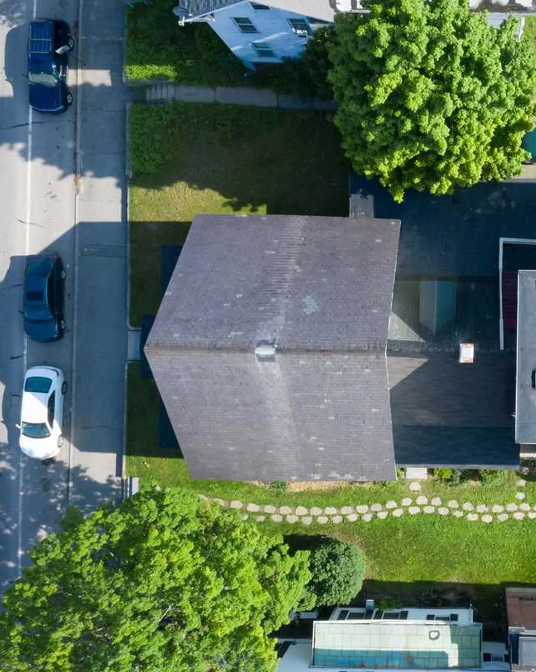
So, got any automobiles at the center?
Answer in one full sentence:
No, at the center there is no automobile.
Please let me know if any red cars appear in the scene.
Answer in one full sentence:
No, no red car is visible in the view.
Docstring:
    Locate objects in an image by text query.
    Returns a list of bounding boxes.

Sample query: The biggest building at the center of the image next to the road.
[141,215,402,479]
